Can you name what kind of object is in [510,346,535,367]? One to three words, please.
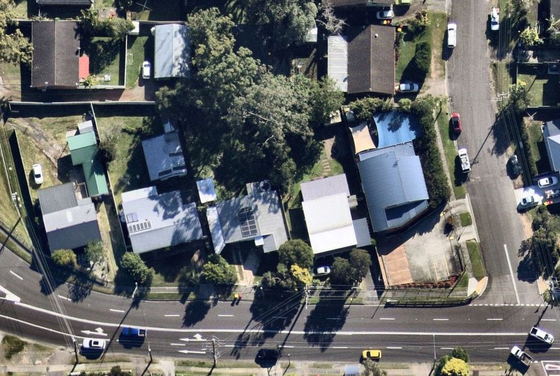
truck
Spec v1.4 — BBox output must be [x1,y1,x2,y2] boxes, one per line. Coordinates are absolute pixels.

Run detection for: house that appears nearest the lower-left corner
[37,182,101,252]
